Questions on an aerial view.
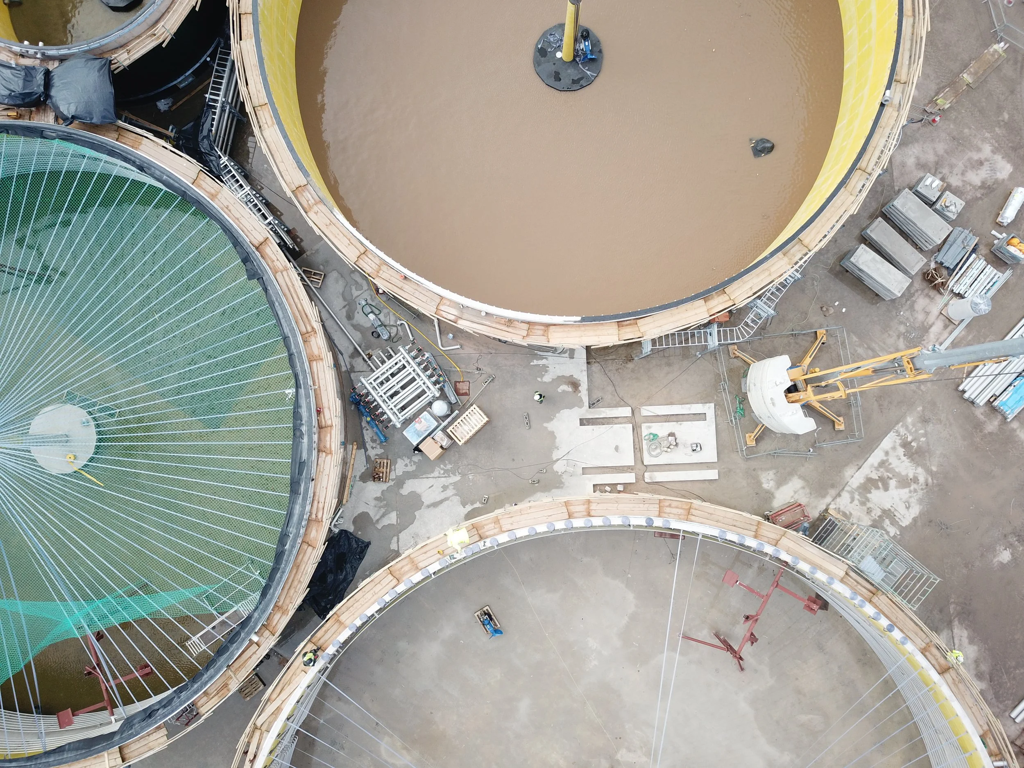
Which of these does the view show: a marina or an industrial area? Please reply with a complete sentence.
The picture captures an industrial area.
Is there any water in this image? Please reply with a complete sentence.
Yes, the picture does contain water.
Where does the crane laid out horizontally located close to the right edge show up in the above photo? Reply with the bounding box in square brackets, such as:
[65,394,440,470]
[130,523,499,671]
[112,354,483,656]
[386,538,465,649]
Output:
[726,329,1024,448]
